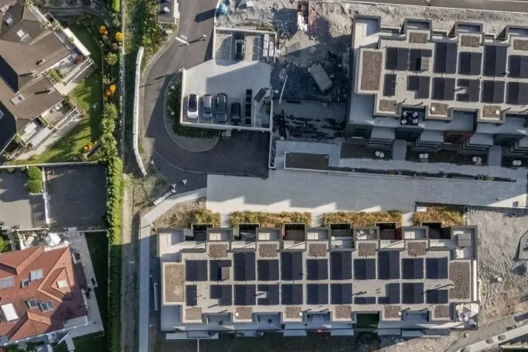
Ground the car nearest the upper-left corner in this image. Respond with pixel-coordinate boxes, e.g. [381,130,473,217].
[185,92,197,119]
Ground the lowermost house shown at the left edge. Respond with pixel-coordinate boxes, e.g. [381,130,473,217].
[0,235,94,348]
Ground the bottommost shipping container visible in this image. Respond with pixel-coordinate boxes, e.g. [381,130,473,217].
[307,62,335,97]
